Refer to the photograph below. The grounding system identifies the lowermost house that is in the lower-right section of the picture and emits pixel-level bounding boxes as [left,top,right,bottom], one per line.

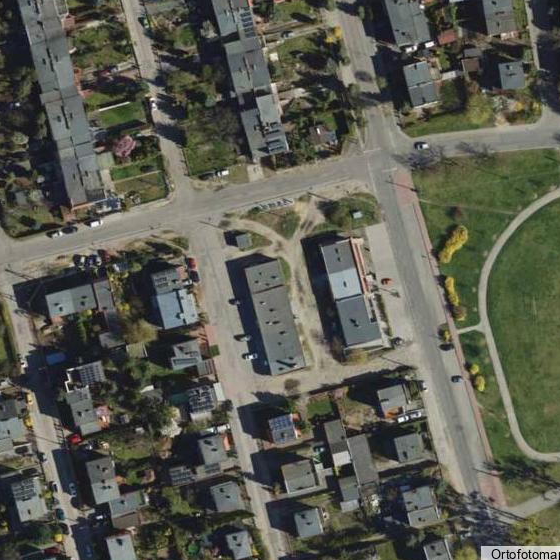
[423,539,453,560]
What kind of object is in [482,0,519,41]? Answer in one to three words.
house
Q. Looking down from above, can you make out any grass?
Yes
